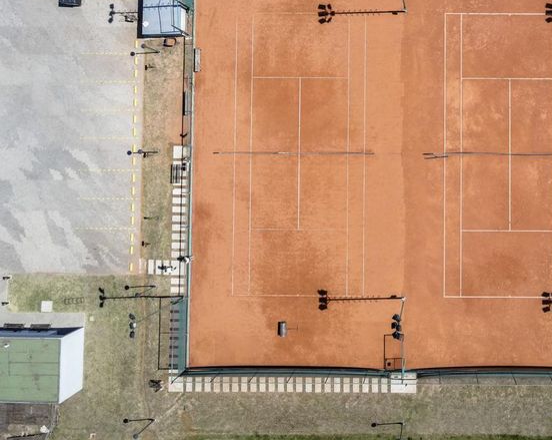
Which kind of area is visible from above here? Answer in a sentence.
This image shows a sports ground.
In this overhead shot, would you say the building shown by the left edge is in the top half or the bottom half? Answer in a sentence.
The building shown by the left edge is in the bottom half of the image.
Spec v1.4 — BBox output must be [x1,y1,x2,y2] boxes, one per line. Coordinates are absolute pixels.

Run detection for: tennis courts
[187,0,404,369]
[404,0,552,369]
